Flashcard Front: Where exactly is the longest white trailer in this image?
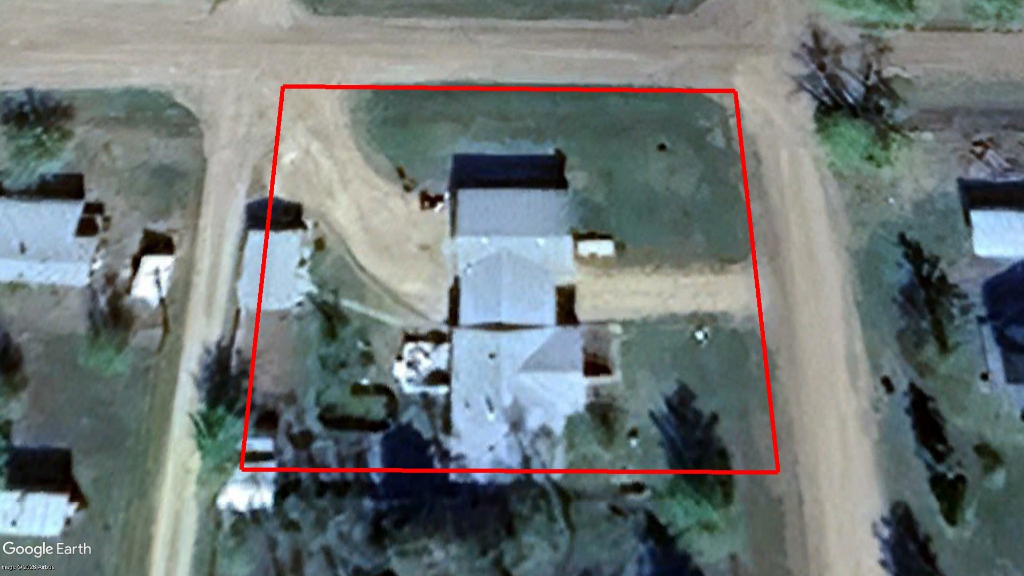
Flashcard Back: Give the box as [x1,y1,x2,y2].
[577,236,623,256]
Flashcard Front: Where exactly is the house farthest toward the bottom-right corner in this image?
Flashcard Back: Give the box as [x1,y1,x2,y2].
[988,313,1024,386]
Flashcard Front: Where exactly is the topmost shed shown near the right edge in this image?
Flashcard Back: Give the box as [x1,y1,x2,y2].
[969,205,1024,257]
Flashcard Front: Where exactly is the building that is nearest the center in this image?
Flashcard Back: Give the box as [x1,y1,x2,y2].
[457,183,575,328]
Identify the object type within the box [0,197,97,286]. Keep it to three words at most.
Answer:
house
